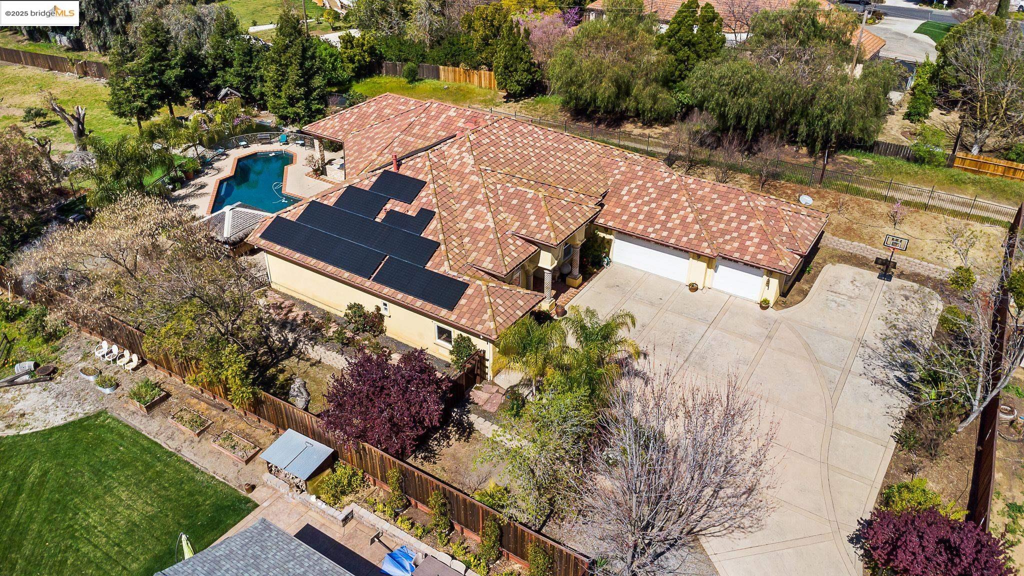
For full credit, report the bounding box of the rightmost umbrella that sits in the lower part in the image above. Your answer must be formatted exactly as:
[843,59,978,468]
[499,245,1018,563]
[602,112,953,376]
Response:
[372,527,419,576]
